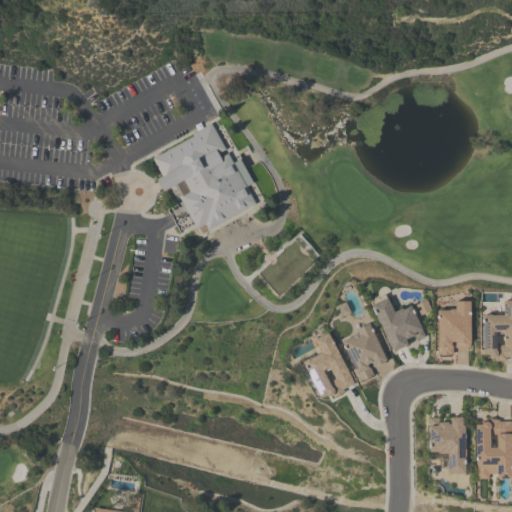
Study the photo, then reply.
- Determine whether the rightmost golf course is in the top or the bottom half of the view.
top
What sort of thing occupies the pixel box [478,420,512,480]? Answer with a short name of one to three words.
house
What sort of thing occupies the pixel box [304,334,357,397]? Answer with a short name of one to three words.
house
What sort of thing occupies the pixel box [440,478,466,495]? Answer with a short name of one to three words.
swimming pool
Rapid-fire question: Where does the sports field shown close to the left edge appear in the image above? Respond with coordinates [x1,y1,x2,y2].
[0,210,71,384]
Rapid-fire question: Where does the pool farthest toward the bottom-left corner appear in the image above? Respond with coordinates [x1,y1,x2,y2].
[112,480,135,492]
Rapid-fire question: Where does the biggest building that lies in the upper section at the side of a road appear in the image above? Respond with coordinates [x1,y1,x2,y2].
[153,122,257,233]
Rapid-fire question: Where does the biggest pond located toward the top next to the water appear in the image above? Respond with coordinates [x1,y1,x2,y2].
[348,83,479,192]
